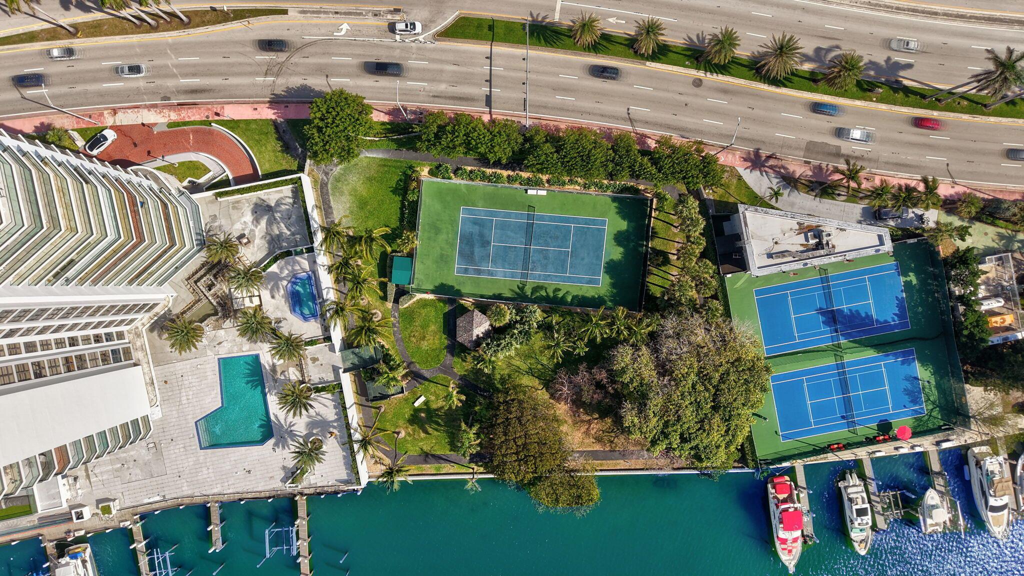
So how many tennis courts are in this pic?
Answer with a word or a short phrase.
3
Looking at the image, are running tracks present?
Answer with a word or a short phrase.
No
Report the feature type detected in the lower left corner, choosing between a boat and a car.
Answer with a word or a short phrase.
boat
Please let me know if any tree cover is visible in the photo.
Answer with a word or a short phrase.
Yes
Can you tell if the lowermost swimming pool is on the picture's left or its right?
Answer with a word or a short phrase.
left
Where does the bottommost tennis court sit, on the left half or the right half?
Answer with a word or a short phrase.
right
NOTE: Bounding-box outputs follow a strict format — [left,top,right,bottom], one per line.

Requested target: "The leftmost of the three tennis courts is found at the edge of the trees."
[411,179,653,311]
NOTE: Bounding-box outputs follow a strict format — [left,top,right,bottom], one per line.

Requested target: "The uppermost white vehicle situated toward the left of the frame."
[394,21,423,36]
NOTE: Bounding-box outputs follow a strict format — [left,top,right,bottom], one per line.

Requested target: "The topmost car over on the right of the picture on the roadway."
[889,37,919,53]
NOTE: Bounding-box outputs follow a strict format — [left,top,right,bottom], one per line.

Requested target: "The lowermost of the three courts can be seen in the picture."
[742,336,970,463]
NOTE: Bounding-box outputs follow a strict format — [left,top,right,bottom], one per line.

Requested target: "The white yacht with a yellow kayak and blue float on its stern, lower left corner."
[61,540,101,576]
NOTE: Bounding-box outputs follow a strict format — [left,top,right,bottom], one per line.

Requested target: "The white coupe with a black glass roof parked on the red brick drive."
[88,128,117,156]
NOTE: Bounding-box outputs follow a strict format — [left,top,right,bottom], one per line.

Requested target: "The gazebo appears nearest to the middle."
[457,309,490,347]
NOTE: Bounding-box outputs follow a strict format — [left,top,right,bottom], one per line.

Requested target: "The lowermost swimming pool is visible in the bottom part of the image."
[195,354,274,450]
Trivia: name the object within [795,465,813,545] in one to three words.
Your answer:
pier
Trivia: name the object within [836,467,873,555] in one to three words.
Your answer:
boat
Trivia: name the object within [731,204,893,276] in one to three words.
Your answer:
building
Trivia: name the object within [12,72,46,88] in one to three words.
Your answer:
car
